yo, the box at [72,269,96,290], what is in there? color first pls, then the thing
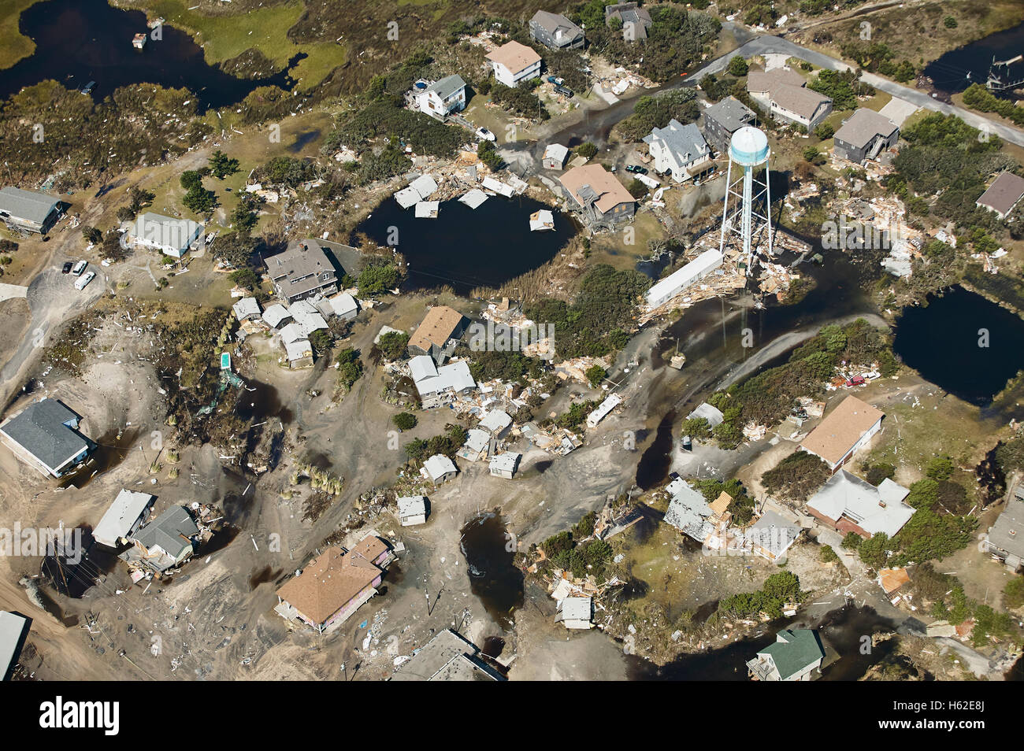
white vehicle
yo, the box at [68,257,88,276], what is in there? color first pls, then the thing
white car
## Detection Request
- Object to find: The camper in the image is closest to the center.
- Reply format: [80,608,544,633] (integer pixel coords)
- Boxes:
[586,387,626,428]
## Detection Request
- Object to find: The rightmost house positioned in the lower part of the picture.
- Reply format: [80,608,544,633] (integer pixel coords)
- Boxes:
[983,486,1024,568]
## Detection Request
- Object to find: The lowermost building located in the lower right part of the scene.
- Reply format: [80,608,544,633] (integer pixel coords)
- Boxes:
[746,629,823,698]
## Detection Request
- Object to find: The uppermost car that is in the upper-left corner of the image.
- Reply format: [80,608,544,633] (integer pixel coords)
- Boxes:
[80,76,98,94]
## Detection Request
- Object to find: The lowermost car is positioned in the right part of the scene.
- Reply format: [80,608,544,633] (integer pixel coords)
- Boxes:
[661,467,684,484]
